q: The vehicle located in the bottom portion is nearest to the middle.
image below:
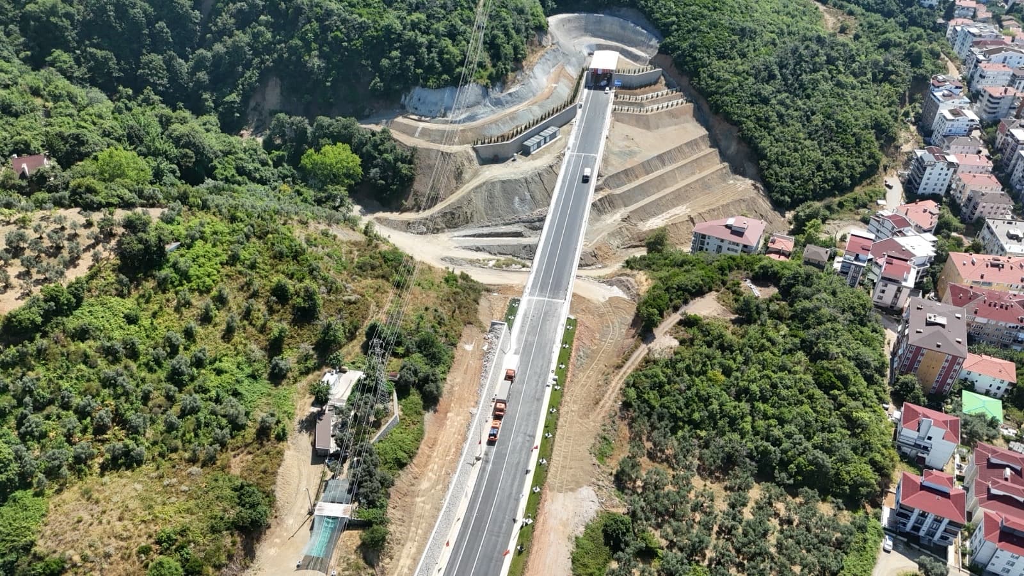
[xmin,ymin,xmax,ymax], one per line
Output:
[505,353,520,380]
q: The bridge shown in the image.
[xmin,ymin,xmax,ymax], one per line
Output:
[522,152,603,301]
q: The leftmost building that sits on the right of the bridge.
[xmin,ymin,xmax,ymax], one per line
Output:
[689,207,767,265]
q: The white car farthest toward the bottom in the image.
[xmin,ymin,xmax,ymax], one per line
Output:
[883,534,896,553]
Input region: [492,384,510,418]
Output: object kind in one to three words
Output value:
vehicle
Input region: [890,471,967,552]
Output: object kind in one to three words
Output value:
house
